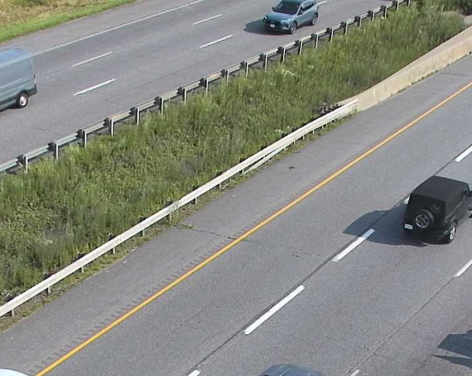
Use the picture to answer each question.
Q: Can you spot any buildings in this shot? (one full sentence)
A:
No, I find no building anywhere in the image.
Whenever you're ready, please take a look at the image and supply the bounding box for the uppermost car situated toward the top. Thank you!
[262,0,323,33]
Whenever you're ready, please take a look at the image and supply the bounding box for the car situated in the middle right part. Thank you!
[403,176,472,242]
